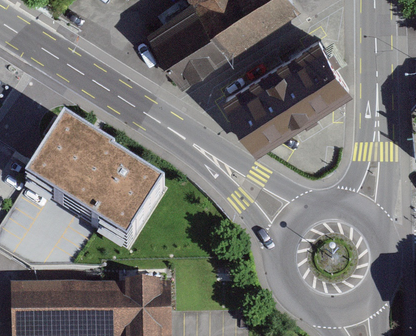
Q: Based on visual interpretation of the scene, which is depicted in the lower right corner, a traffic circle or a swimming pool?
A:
traffic circle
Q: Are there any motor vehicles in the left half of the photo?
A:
Yes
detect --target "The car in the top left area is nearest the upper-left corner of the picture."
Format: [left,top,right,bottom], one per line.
[64,10,86,27]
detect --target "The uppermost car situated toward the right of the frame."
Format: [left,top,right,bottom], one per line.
[246,64,267,80]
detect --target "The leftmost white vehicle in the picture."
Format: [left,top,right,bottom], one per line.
[3,174,26,192]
